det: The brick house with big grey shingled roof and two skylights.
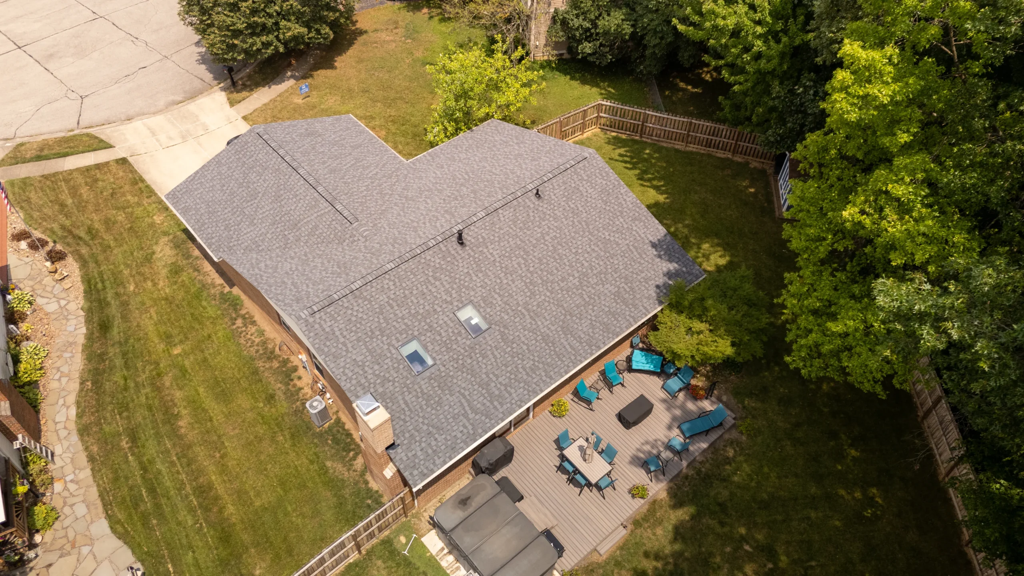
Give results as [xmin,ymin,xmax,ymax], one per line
[163,112,705,515]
